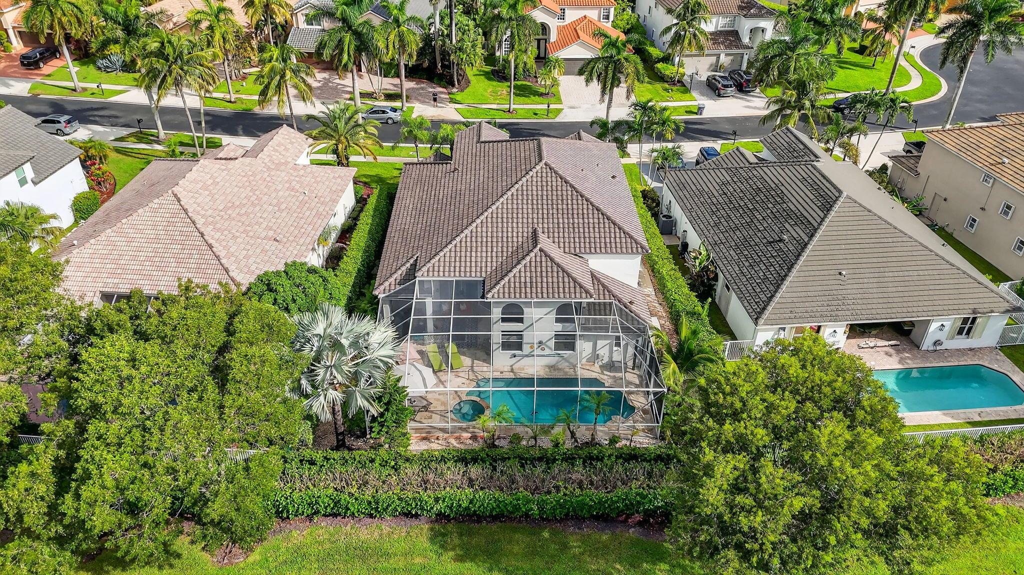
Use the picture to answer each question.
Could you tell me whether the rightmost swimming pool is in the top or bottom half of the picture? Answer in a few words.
bottom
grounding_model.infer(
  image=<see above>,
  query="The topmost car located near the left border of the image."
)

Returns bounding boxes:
[22,46,57,64]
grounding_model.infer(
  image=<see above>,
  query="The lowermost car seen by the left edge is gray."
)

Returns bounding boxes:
[35,109,77,133]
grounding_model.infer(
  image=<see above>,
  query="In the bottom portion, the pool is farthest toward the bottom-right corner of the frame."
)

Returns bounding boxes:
[853,361,1024,419]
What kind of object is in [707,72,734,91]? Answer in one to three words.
car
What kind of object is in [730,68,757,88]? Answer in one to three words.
car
